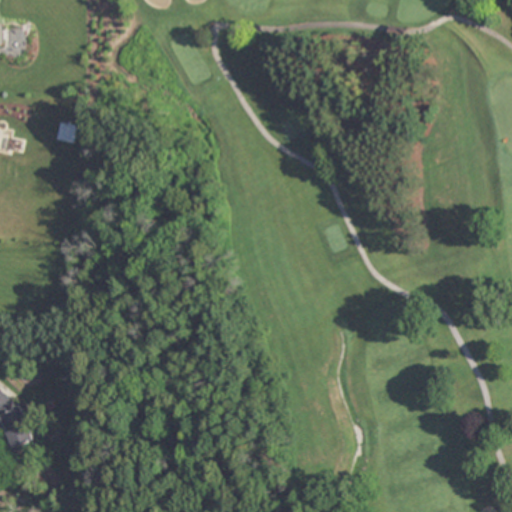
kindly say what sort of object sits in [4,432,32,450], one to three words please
house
